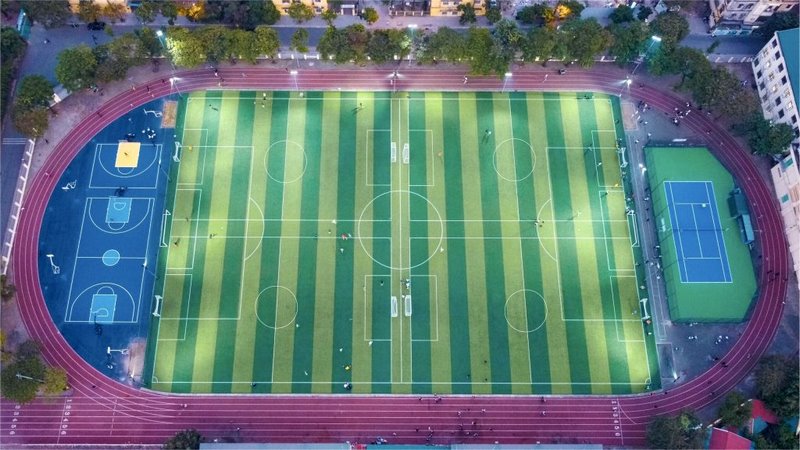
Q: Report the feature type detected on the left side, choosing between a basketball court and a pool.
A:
basketball court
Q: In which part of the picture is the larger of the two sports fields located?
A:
center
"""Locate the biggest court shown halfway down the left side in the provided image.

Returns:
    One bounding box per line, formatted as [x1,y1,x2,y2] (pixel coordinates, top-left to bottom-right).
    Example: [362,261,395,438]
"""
[65,198,155,322]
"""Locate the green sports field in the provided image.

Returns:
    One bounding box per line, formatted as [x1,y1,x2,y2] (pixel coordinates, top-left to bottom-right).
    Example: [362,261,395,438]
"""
[138,90,664,395]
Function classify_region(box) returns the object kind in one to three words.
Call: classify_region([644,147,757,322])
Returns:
tennis court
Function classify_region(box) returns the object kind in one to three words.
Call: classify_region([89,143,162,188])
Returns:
basketball court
